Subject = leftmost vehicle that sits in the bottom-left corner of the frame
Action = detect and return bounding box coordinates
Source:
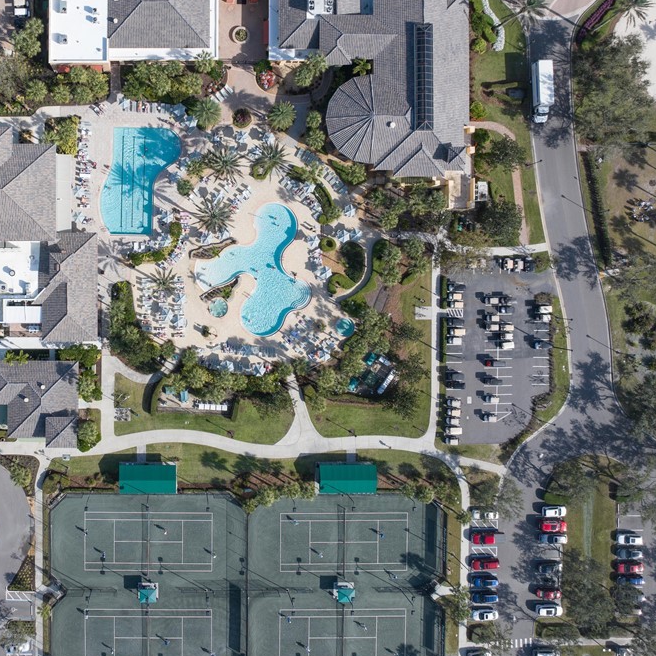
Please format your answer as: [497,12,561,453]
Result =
[6,640,32,654]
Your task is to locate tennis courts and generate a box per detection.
[247,591,442,656]
[247,495,447,591]
[51,494,247,591]
[51,591,247,656]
